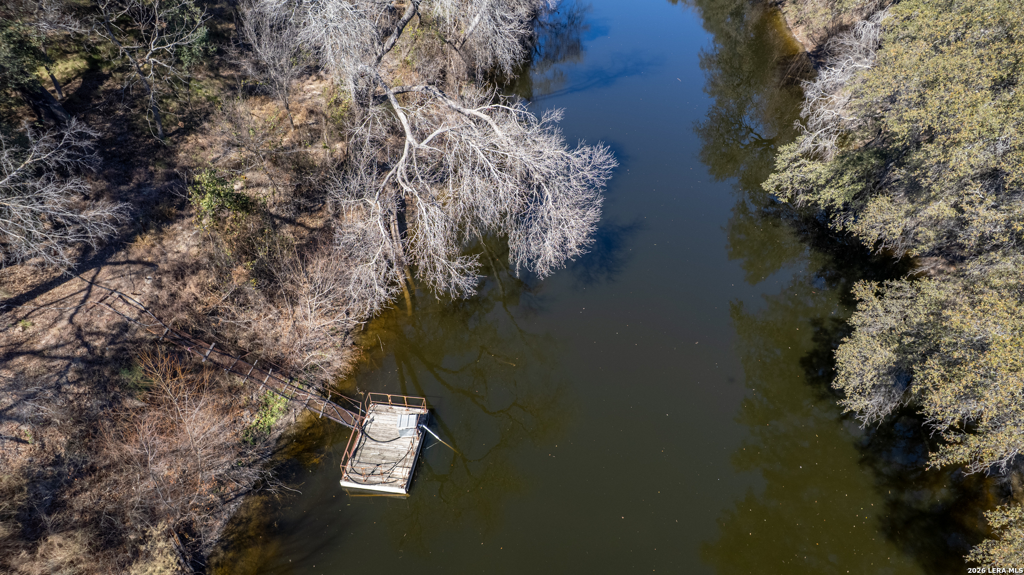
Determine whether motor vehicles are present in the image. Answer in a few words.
No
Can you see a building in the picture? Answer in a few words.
No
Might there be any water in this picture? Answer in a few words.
Yes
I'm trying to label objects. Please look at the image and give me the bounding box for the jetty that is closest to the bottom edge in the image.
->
[336,394,430,496]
